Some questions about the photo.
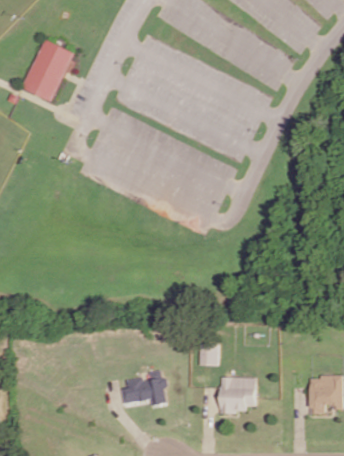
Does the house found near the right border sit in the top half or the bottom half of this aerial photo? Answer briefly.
bottom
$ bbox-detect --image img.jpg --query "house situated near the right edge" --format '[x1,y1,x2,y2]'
[309,376,344,417]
